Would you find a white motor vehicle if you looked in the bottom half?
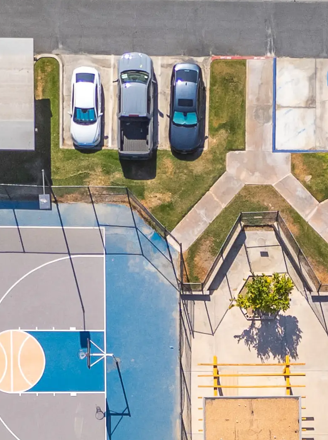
No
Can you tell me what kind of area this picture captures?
sports ground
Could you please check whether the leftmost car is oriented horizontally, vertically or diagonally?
vertically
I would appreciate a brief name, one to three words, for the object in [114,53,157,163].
truck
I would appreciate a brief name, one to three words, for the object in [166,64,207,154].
car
